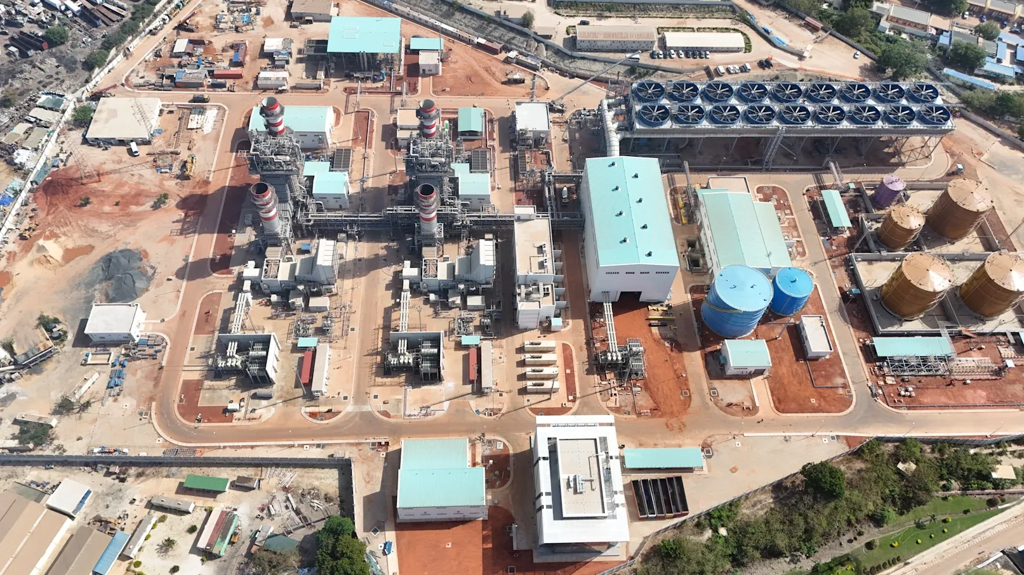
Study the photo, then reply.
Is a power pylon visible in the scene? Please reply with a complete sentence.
Yes, I can see a power pylon in this picture.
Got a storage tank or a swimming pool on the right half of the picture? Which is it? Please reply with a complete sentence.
What appears on the right half of the picture is a storage tank.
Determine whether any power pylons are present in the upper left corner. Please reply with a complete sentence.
Yes, I can see a power pylon in the upper left corner.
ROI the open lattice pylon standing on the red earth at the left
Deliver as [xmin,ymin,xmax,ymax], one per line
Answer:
[51,122,102,186]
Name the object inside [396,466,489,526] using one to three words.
building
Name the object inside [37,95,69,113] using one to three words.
shed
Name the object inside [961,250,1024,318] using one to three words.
storage tank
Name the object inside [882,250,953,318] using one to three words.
storage tank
